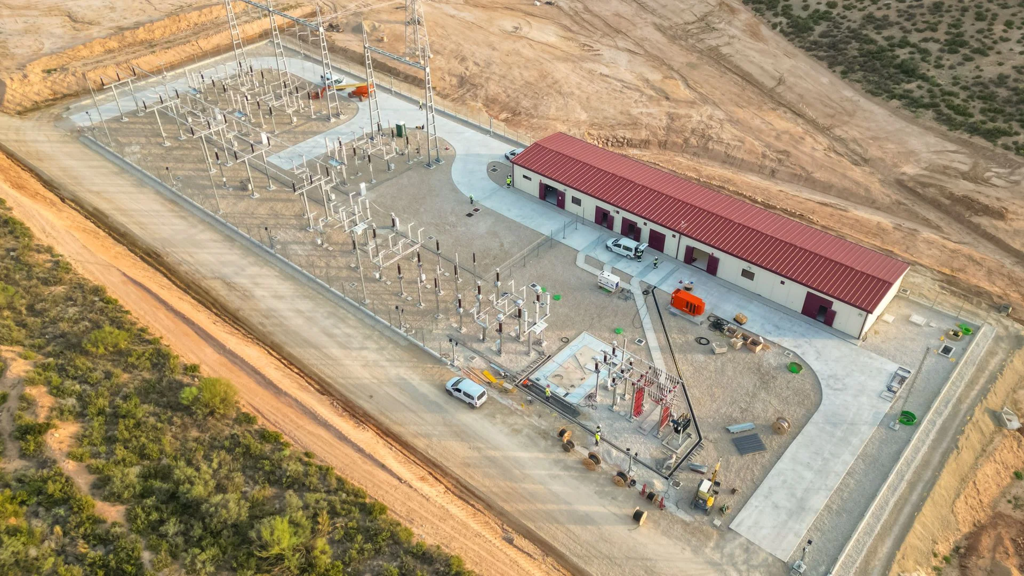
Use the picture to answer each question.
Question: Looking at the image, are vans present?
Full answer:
Yes, there's a van down there.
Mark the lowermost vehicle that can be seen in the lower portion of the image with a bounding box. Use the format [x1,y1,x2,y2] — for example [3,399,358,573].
[690,461,725,511]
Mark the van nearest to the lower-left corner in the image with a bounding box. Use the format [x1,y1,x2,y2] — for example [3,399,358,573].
[446,375,489,411]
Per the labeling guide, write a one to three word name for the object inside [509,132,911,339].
building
